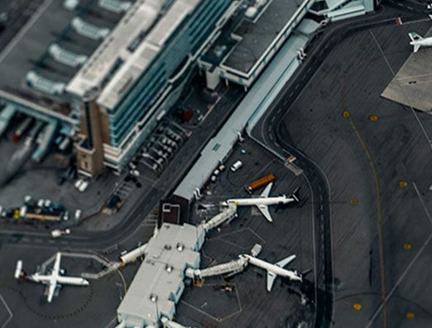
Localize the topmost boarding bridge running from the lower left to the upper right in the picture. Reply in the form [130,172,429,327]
[198,200,238,236]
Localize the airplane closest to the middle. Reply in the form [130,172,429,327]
[223,182,295,221]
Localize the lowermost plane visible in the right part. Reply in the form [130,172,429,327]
[239,254,307,289]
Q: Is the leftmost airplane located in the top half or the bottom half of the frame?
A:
bottom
